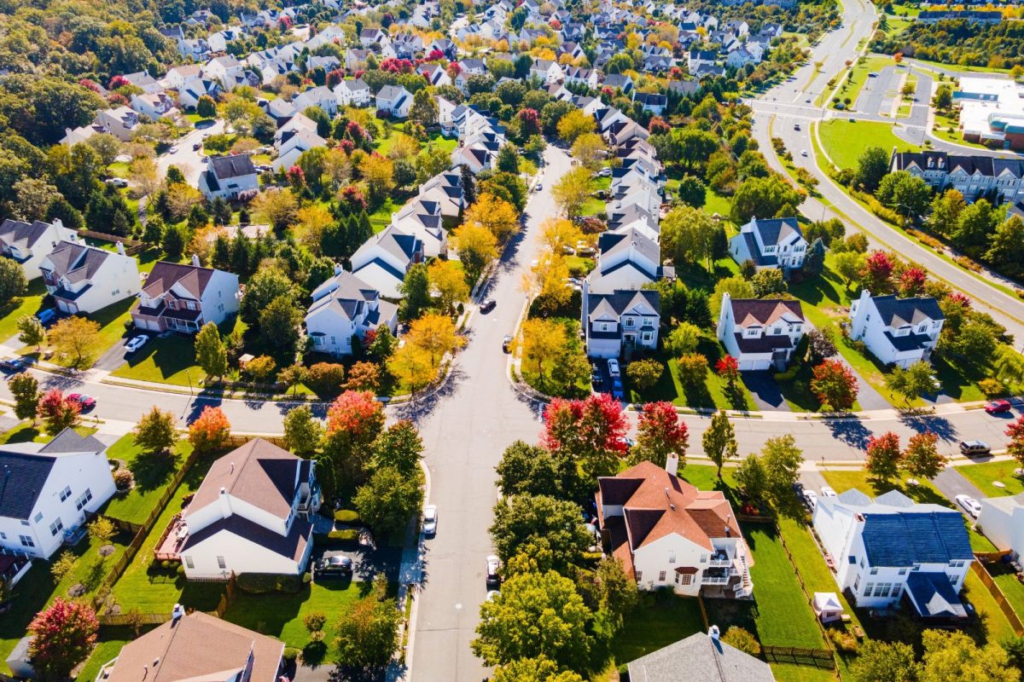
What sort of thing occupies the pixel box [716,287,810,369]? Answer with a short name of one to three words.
house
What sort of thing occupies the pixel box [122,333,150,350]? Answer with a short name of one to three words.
car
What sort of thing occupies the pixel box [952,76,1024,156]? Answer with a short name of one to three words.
building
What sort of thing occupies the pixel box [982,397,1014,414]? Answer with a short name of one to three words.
car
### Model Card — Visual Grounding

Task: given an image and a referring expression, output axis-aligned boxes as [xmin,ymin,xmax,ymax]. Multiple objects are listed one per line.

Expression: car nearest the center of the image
[501,336,513,351]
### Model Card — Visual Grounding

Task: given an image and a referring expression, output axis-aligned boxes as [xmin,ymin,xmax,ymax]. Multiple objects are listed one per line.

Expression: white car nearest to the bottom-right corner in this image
[954,493,984,519]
